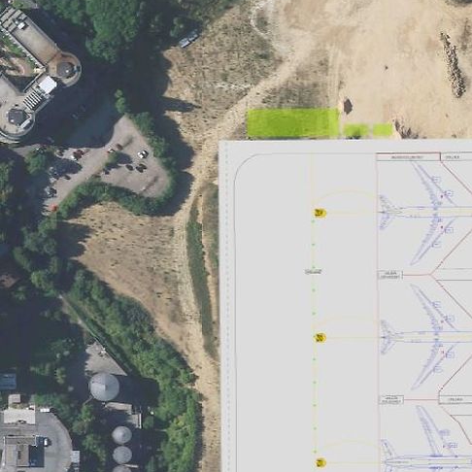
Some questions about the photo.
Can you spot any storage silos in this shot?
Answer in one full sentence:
Yes, the image includes a storage silo.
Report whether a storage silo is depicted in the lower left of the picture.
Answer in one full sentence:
Yes, a storage silo appears in the lower left of the picture.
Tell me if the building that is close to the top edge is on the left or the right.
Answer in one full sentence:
It is on the left.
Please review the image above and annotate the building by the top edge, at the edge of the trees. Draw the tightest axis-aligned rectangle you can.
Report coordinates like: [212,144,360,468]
[0,5,85,142]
